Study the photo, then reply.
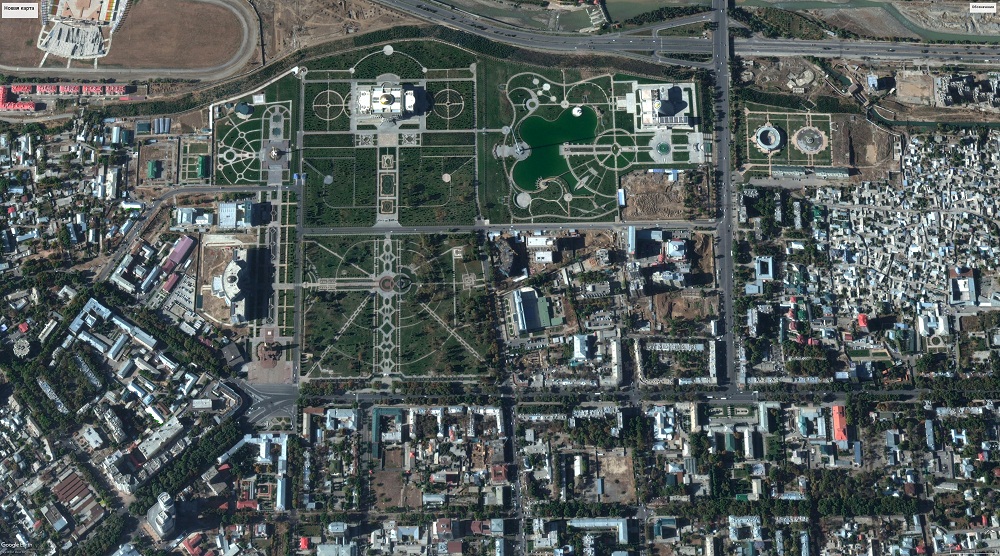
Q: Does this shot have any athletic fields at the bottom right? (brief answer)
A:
No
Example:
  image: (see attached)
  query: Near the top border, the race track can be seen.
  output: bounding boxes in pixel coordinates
[0,0,259,83]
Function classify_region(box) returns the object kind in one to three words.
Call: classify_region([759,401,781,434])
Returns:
building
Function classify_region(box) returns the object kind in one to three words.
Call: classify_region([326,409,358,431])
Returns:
house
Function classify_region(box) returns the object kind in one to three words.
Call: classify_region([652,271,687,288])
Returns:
building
